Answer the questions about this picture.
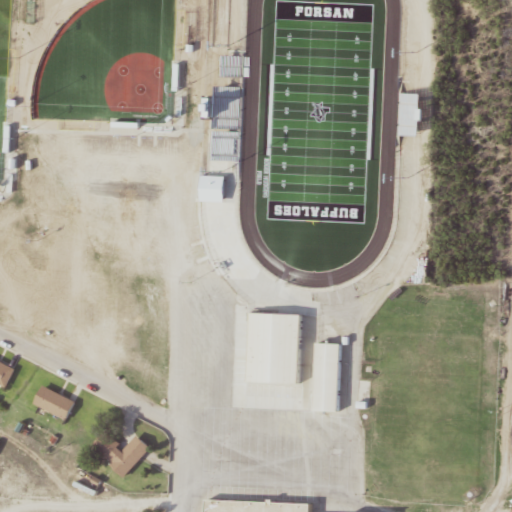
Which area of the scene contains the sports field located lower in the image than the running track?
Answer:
bottom right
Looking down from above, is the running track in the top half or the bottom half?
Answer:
top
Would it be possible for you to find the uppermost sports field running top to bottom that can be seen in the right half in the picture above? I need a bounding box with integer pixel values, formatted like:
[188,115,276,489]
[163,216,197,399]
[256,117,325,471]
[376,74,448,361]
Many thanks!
[254,0,386,272]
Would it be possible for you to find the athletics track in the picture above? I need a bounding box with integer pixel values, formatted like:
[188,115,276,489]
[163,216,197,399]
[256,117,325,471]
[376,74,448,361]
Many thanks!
[240,0,400,286]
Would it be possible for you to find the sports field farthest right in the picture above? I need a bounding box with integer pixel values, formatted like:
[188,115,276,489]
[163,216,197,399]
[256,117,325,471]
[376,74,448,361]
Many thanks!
[356,284,500,502]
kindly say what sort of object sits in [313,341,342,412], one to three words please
building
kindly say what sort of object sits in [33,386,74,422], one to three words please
house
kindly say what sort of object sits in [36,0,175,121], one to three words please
baseball field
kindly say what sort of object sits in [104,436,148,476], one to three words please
house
